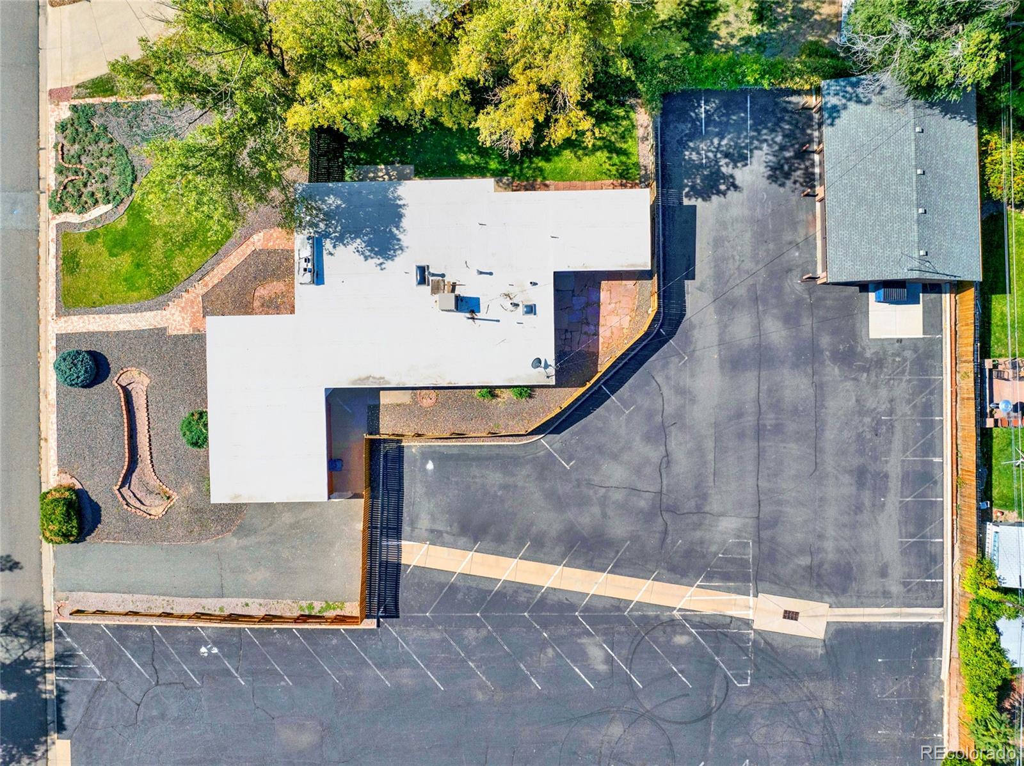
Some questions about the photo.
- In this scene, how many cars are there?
0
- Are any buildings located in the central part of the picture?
Yes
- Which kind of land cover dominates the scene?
paved ground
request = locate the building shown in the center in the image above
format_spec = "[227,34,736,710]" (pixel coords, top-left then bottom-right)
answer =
[206,178,651,503]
